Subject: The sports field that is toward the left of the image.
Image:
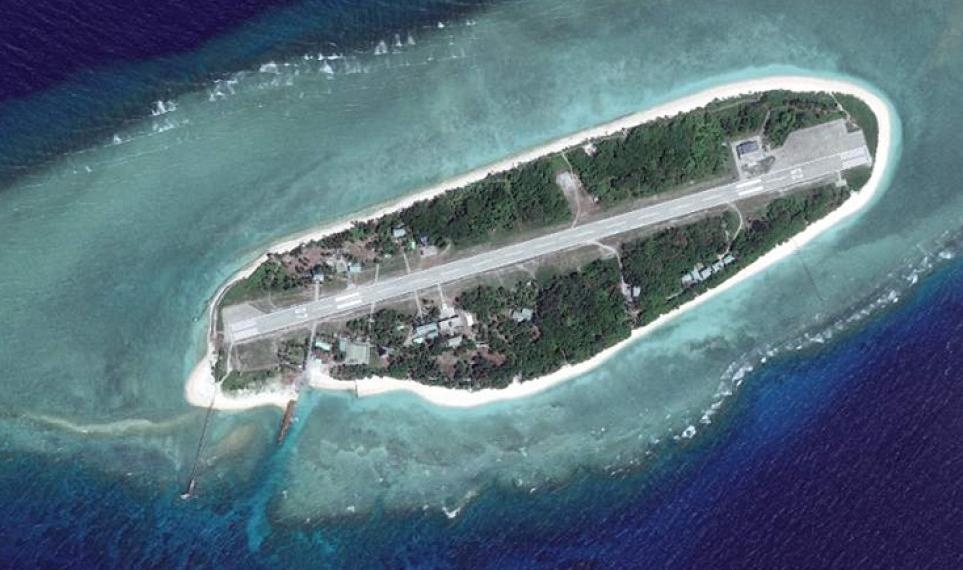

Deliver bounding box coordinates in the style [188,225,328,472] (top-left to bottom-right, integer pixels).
[241,337,277,369]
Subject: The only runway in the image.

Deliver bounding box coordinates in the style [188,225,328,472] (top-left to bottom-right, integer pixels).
[229,146,869,340]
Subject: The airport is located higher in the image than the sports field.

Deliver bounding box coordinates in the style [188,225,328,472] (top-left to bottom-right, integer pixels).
[223,119,872,345]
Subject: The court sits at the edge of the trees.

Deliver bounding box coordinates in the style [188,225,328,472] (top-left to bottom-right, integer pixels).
[346,343,370,364]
